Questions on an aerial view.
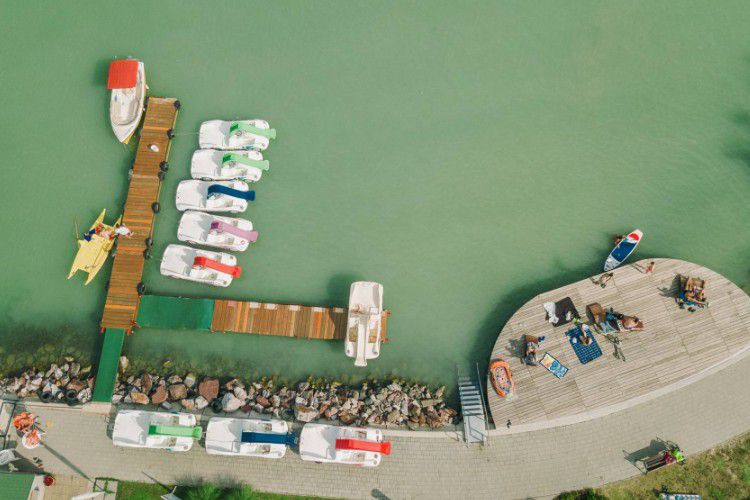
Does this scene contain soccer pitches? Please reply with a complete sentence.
No, there's no soccer pitch here.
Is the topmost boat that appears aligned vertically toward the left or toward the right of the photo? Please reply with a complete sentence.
You can find the topmost boat that appears aligned vertically on the left side of the picture.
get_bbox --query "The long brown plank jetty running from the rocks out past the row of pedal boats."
[100,96,180,332]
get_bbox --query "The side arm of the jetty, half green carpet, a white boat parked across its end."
[136,295,390,343]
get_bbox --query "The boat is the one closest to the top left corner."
[104,53,145,142]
